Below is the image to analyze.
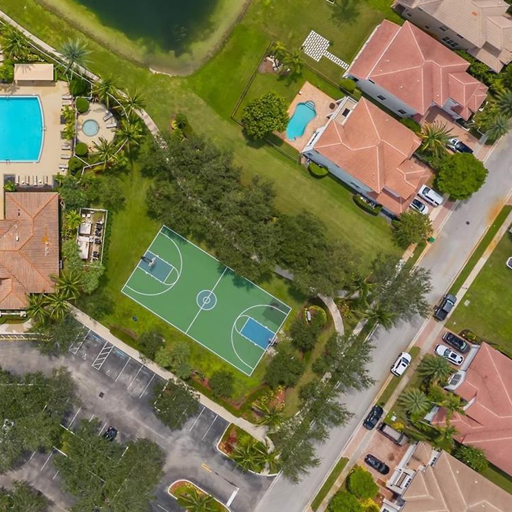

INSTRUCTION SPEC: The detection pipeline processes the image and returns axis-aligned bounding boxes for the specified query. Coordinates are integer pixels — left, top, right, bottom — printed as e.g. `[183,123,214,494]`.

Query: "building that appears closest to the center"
[301,97,430,216]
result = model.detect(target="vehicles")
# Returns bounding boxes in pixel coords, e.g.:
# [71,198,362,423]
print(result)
[407,196,431,216]
[390,352,412,379]
[433,291,457,323]
[447,137,473,154]
[364,403,385,431]
[378,423,406,444]
[364,453,389,475]
[443,331,466,349]
[436,345,458,361]
[101,422,119,444]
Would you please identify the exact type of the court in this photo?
basketball court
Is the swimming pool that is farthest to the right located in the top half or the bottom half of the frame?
top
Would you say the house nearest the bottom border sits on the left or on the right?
right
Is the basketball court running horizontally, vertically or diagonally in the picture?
diagonally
